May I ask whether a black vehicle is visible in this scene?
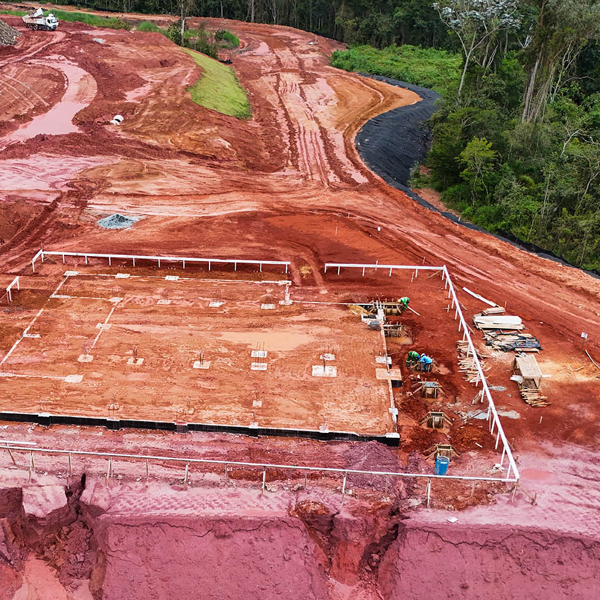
No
